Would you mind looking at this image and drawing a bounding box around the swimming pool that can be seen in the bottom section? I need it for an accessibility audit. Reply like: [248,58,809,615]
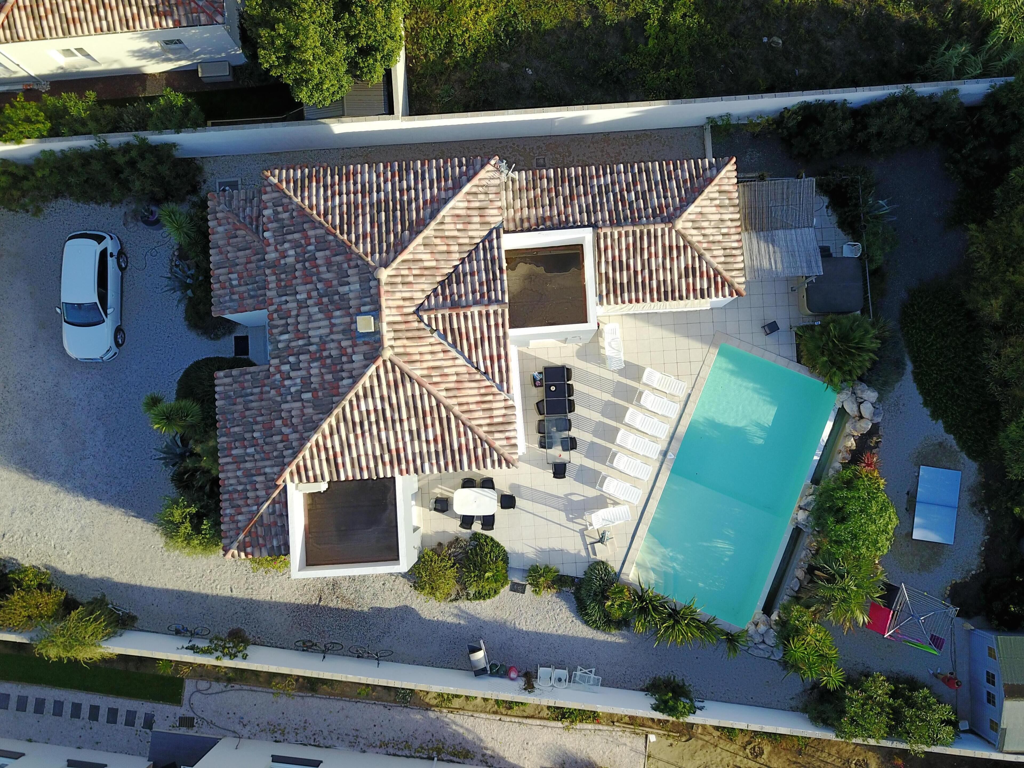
[616,330,859,644]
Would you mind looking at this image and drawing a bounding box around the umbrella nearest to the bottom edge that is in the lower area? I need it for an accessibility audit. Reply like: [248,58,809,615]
[586,527,617,559]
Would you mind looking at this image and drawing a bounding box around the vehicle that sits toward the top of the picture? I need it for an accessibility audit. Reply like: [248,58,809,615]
[49,230,124,359]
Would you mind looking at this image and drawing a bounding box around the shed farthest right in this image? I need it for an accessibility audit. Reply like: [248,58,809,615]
[971,627,1024,756]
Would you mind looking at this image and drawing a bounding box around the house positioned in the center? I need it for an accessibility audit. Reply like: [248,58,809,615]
[206,151,751,578]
